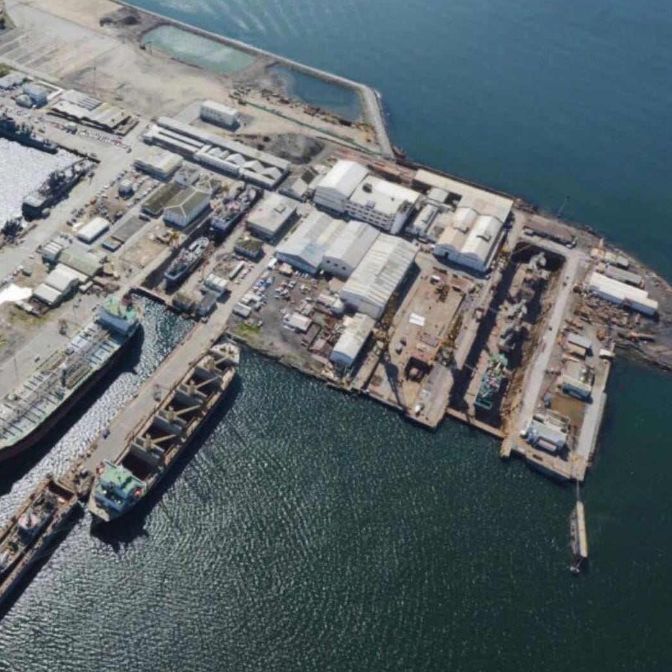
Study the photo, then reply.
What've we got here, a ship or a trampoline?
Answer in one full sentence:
The image shows a ship.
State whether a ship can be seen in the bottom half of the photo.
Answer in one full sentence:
Yes, you'll find a ship in the bottom half of the photo.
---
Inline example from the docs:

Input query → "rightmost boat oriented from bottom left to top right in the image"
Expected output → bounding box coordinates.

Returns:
[566,556,581,572]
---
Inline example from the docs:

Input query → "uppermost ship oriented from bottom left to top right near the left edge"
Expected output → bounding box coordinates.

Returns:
[19,157,96,220]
